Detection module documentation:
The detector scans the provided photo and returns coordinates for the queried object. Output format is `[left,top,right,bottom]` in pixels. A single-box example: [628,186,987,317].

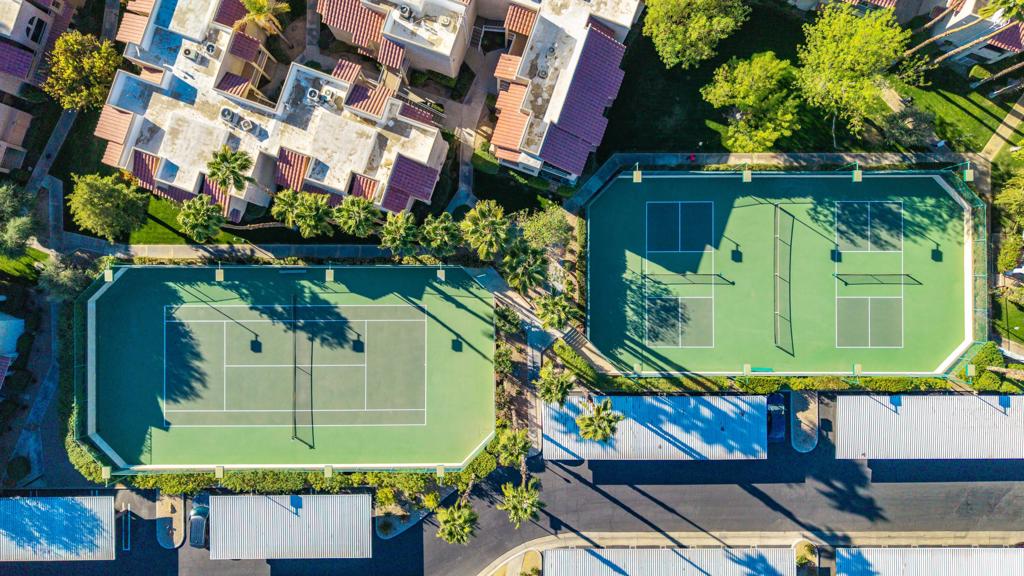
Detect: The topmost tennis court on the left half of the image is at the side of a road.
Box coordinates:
[96,267,494,464]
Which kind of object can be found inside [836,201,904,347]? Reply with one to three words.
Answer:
sports court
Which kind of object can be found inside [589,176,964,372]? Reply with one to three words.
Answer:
sports court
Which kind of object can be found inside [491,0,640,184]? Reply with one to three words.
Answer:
building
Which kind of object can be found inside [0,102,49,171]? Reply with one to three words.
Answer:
building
